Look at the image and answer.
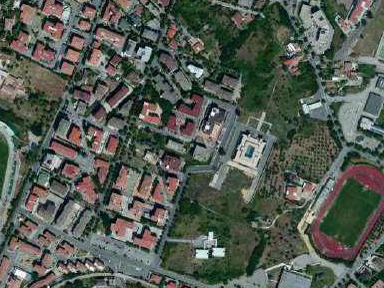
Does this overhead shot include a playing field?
Yes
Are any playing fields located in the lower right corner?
Yes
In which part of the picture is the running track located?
bottom right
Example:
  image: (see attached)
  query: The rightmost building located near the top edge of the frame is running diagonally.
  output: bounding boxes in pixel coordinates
[335,0,373,35]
